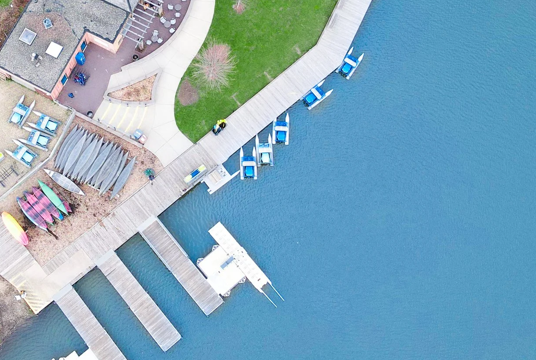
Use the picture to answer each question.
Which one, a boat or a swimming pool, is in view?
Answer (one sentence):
Looking from above, you can make out a boat.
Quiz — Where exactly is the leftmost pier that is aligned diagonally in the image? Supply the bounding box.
[53,284,127,360]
